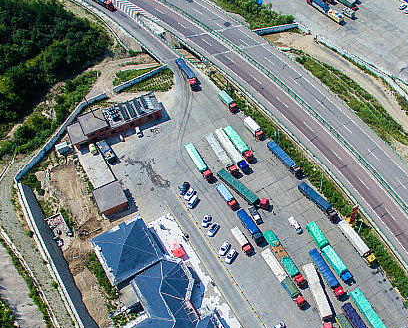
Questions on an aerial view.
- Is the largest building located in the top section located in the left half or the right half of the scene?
left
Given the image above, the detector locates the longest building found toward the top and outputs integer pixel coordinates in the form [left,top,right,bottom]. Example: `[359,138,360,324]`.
[66,91,163,150]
